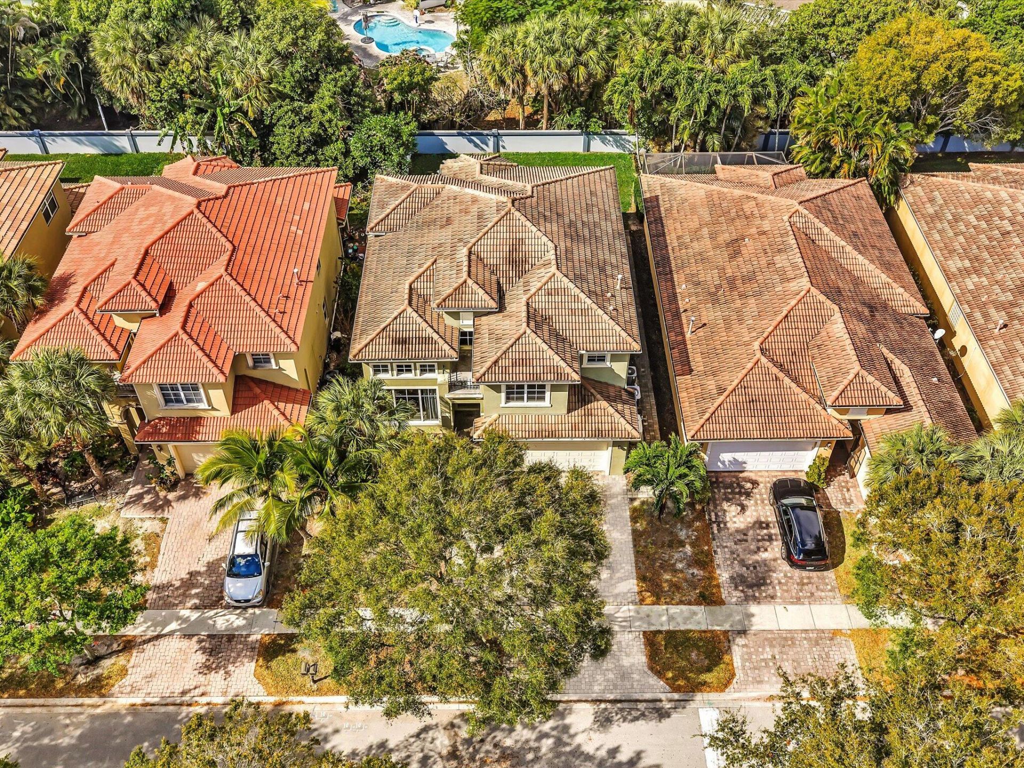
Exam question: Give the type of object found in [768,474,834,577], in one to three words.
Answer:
car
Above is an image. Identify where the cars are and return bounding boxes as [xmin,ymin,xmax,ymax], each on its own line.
[768,474,834,577]
[220,512,275,609]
